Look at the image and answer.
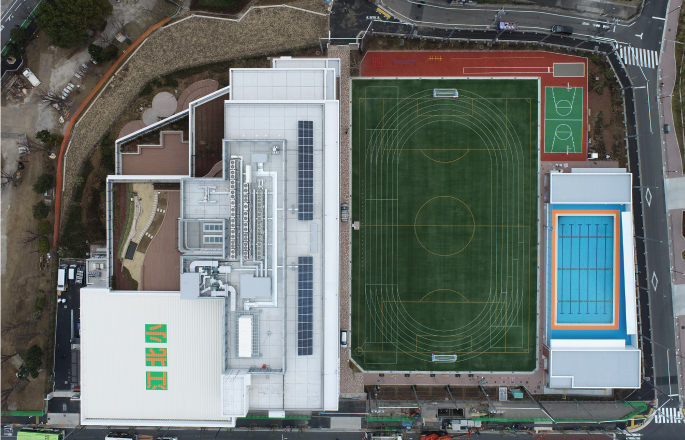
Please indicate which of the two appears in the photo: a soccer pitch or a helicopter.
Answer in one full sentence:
The one in the frame is a soccer pitch.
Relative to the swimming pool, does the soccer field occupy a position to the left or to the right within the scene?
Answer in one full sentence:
The swimming pool has the soccer field on its left side.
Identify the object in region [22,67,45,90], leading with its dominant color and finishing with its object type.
white truck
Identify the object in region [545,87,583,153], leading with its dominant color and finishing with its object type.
green basketball court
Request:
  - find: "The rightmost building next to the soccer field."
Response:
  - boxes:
[542,169,642,394]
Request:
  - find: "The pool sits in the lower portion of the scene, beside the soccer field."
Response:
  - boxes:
[553,210,619,330]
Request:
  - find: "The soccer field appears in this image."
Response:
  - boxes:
[349,74,545,377]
